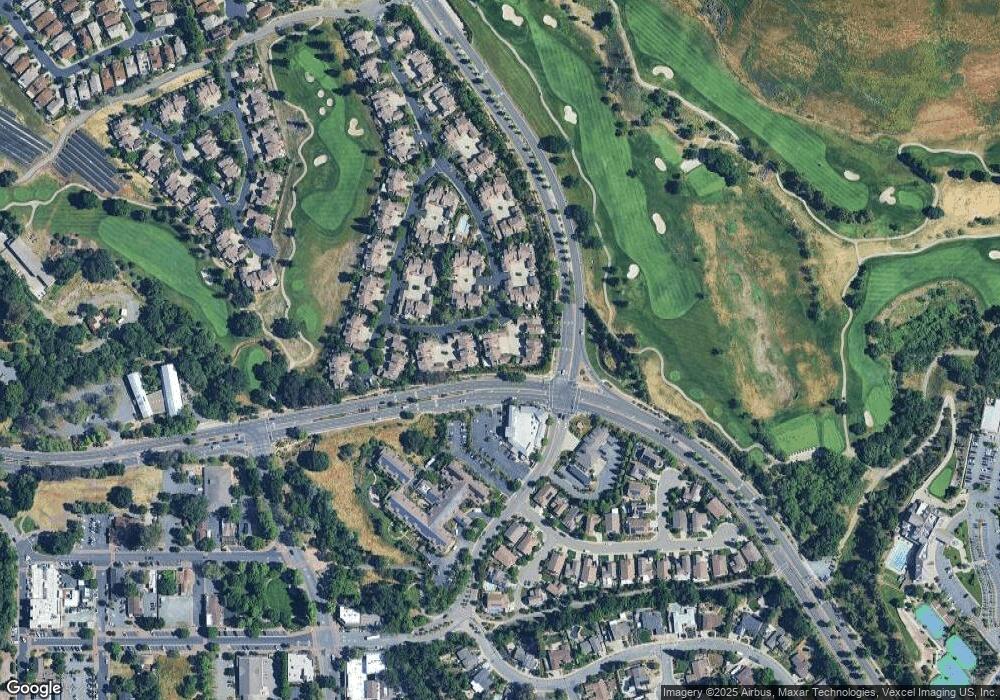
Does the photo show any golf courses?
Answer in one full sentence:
Yes, the picture does show a golf course.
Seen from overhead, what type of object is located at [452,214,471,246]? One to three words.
swimming pool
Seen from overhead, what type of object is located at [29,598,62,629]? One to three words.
building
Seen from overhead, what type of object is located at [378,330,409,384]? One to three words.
house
